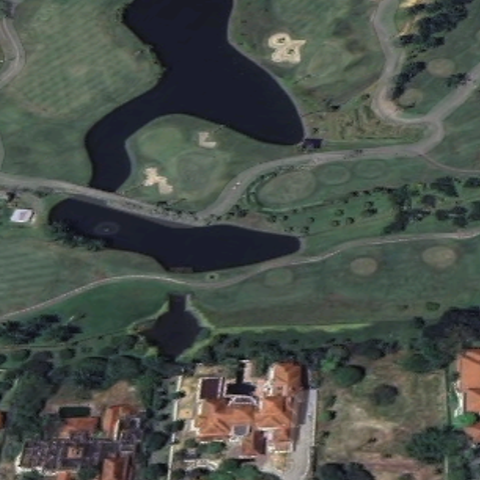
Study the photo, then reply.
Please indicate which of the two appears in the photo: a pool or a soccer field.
pool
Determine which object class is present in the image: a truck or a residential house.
residential house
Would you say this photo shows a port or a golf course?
golf course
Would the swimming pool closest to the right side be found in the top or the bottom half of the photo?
bottom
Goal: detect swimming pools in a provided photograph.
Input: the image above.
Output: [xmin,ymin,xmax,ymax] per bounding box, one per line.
[56,404,94,419]
[226,366,258,396]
